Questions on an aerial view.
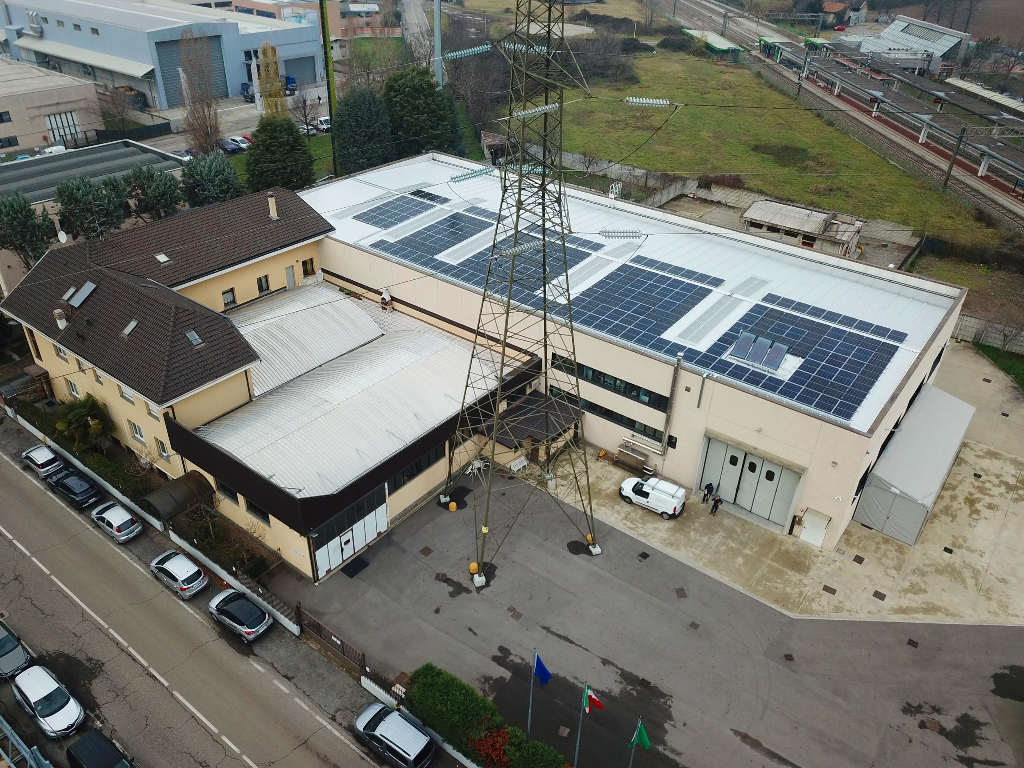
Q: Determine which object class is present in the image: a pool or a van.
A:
van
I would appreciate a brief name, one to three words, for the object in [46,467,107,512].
car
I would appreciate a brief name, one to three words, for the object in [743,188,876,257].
shed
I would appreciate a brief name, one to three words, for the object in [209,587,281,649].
car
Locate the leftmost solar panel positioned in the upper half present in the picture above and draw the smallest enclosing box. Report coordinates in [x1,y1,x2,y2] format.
[62,278,96,319]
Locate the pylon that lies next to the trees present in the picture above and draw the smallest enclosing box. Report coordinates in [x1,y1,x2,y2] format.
[439,0,603,587]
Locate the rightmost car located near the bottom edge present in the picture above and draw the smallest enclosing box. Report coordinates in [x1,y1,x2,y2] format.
[353,700,445,768]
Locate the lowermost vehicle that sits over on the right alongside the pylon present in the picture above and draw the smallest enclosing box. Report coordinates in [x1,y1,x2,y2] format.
[620,472,693,522]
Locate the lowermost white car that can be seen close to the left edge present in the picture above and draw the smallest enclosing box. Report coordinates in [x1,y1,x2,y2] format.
[3,656,89,741]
